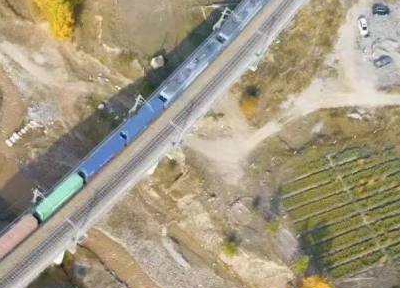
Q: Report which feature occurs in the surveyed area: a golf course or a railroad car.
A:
railroad car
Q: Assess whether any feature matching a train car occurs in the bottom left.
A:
Yes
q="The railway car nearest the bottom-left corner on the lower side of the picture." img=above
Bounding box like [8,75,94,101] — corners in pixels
[0,211,39,262]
